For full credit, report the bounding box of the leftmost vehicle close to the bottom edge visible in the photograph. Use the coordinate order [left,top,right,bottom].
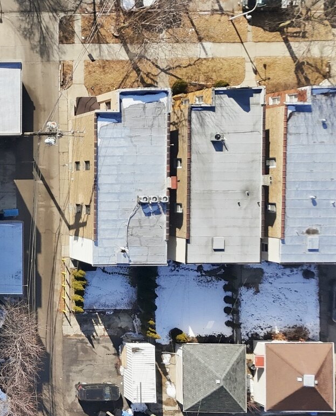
[75,382,119,404]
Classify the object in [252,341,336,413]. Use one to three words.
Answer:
building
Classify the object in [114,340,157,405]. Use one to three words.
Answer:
shed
